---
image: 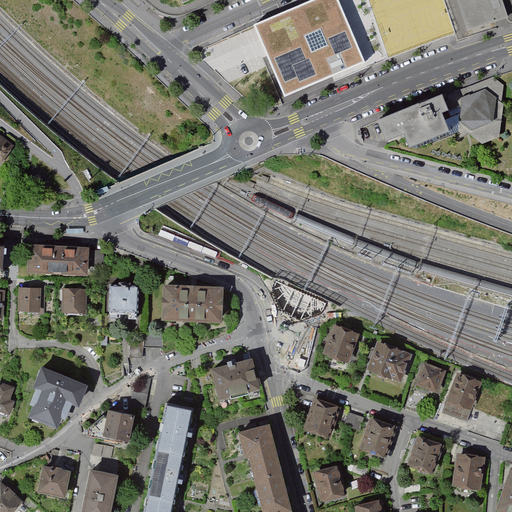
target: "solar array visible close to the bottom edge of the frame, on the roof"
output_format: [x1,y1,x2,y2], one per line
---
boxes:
[150,453,168,498]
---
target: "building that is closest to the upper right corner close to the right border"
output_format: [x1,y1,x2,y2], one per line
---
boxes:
[448,0,508,36]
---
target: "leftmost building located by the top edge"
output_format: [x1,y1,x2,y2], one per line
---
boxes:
[256,0,372,96]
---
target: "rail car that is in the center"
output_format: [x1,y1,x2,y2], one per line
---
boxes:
[251,194,294,218]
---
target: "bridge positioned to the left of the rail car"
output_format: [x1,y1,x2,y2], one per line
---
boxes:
[98,128,256,222]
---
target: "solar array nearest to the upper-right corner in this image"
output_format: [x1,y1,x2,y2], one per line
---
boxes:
[329,32,352,53]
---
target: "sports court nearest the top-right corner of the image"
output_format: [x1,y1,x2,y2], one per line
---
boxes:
[370,0,454,58]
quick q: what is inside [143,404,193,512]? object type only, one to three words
building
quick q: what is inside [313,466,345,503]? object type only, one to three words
house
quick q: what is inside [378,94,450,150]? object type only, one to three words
building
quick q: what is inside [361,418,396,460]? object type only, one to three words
house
